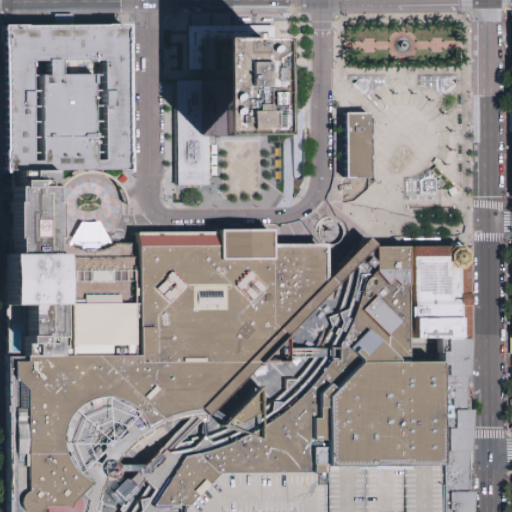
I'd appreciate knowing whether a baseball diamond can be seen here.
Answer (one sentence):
No, there's no baseball diamond here.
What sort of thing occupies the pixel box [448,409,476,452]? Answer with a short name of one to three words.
building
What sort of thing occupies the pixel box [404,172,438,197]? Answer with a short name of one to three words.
building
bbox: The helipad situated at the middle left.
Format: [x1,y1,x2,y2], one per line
[40,220,53,238]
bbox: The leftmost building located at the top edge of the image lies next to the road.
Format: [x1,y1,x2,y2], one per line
[3,23,134,171]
